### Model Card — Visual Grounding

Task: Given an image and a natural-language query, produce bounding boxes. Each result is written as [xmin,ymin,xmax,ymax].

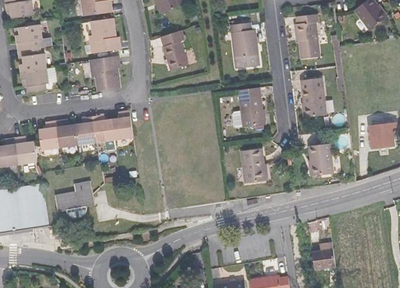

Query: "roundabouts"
[92,246,148,288]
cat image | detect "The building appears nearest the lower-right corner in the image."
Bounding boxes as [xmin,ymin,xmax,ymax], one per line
[312,242,336,271]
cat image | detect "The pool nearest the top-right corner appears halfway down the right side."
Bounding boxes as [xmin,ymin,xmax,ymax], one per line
[332,112,348,128]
